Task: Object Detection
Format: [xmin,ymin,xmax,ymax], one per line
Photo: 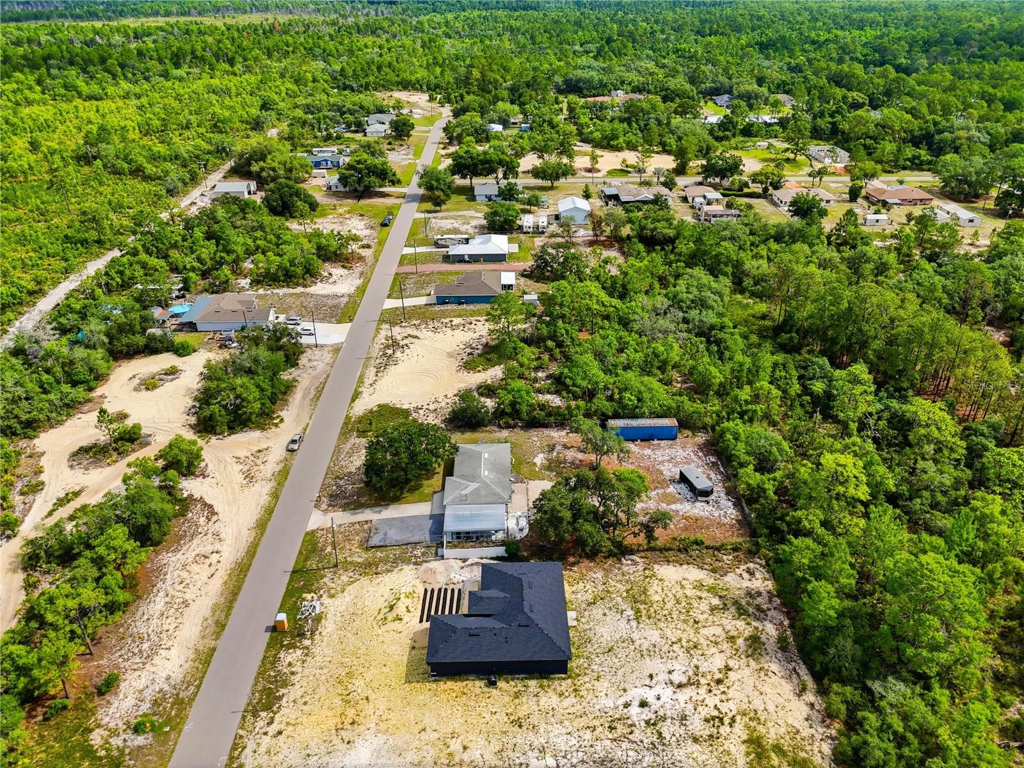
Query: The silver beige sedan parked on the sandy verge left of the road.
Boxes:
[284,432,305,451]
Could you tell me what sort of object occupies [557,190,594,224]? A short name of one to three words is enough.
building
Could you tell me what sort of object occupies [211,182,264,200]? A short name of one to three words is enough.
building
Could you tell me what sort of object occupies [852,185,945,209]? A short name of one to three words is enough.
house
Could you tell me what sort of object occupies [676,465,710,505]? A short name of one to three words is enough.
trailer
